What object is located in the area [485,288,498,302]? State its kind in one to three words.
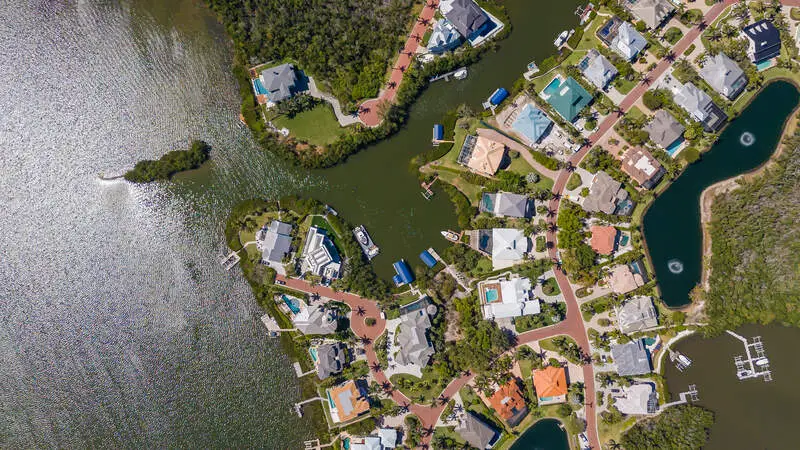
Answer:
swimming pool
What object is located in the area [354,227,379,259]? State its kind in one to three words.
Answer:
boat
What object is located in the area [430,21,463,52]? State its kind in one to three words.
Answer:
house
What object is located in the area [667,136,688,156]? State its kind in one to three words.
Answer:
swimming pool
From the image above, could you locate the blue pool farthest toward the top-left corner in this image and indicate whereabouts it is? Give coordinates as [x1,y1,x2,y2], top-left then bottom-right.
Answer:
[254,77,269,97]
